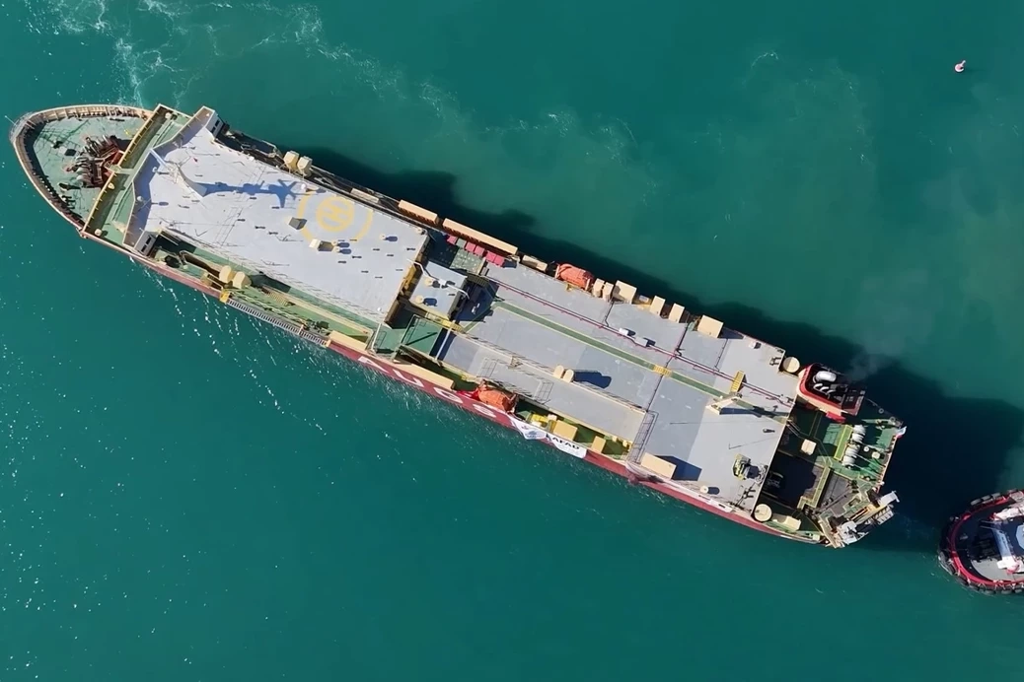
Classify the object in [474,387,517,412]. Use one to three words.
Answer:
boat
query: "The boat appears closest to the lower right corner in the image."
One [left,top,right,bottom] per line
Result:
[938,486,1024,593]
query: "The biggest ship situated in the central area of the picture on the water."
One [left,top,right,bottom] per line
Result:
[2,105,912,550]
